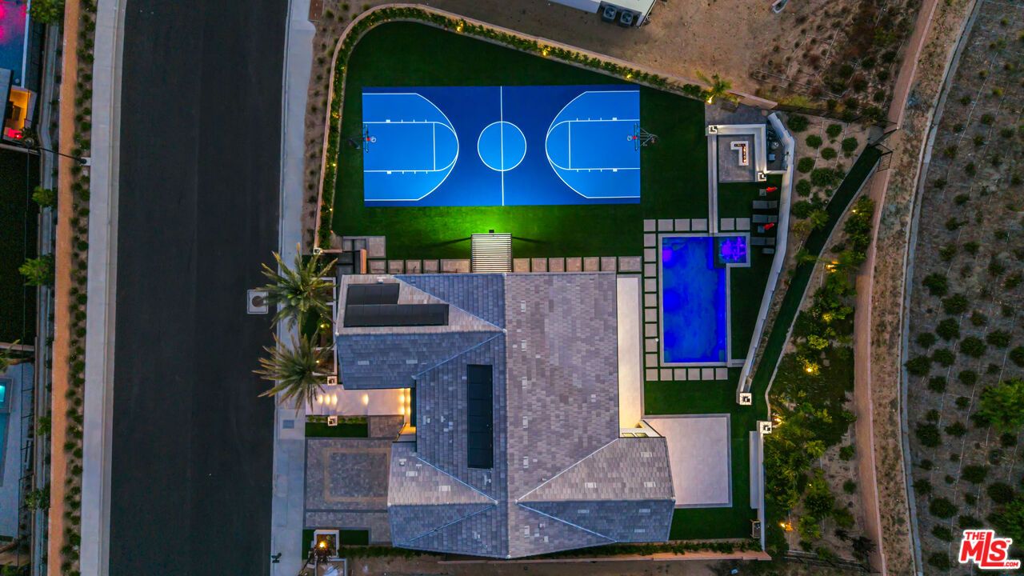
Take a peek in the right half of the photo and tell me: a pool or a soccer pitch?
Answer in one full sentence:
The feature located in the right half of the photo is a pool.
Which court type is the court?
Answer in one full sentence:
The court is a basketball court.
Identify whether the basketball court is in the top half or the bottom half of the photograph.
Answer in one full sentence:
It is in the top half that the basketball court appears.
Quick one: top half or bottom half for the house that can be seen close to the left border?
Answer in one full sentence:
The house that can be seen close to the left border sits in the top half of the picture.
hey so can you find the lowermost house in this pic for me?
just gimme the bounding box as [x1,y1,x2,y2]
[335,271,677,560]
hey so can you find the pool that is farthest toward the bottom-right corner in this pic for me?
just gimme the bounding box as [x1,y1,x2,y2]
[658,233,751,367]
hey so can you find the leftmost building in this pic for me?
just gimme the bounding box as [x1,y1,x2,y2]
[0,69,36,146]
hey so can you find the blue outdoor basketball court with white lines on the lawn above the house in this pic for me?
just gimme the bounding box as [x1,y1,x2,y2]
[362,85,640,207]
